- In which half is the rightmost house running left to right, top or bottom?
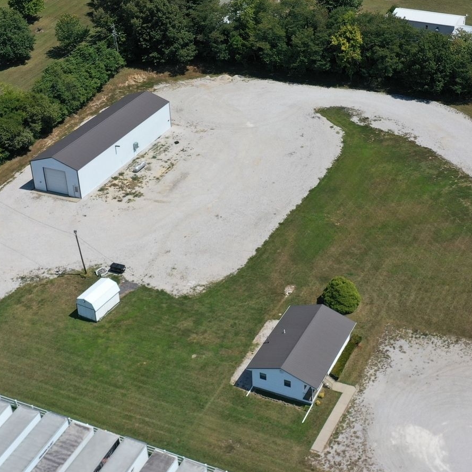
top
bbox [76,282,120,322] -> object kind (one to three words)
shed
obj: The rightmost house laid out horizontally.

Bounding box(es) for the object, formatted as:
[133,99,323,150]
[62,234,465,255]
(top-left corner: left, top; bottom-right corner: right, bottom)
[395,10,468,36]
